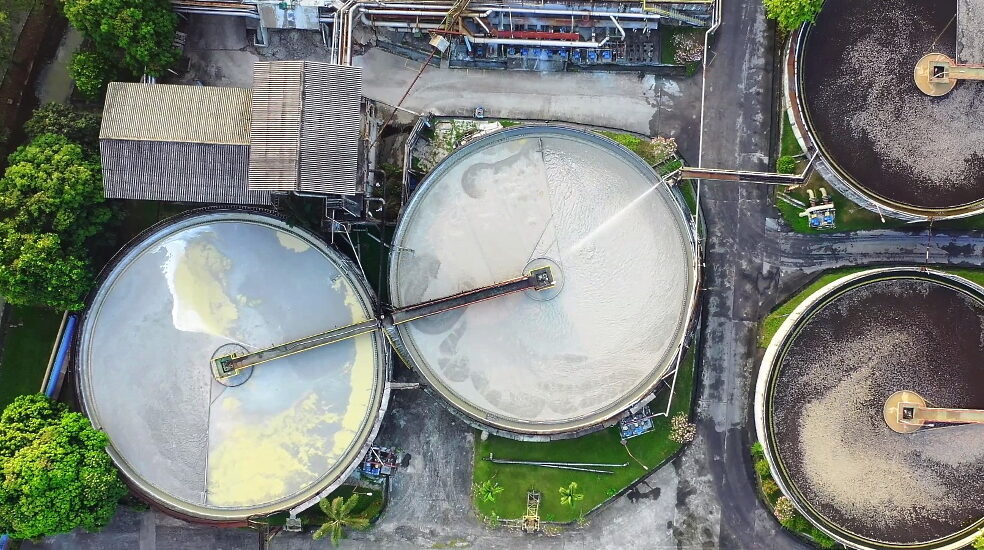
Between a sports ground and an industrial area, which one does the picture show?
industrial area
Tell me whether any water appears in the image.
Yes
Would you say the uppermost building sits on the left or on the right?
left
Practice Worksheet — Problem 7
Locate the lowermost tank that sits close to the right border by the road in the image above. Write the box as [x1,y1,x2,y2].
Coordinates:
[755,266,984,550]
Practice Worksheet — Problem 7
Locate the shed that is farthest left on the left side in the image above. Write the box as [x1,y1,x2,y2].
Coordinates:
[99,82,273,205]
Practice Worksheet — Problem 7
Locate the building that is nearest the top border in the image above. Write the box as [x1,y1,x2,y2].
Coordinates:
[254,0,325,52]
